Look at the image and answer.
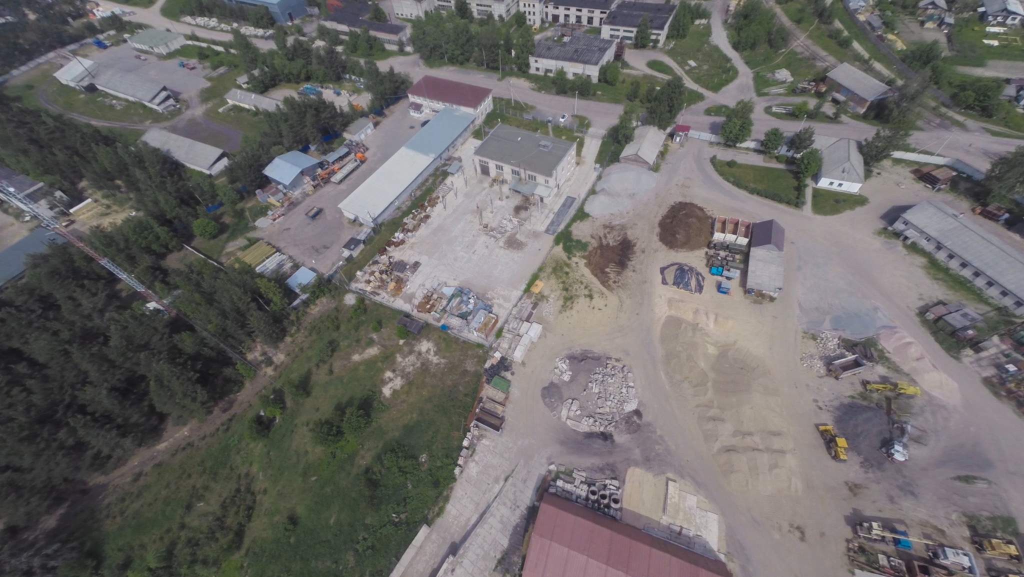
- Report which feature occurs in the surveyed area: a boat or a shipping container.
shipping container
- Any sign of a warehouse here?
Yes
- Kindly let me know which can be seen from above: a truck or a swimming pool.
truck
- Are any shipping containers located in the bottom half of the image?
Yes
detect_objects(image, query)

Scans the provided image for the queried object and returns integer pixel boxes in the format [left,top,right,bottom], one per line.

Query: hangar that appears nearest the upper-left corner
[55,48,128,80]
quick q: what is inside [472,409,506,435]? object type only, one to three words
shipping container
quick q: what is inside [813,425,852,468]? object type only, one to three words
work vehicle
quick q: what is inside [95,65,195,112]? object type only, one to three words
hangar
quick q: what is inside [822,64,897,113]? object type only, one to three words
house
